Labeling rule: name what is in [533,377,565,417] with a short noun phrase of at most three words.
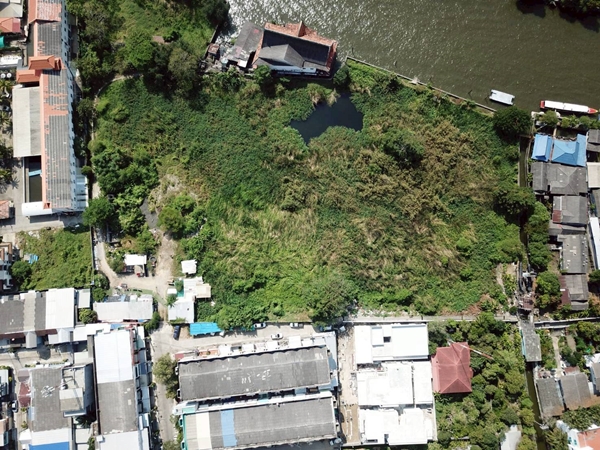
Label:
house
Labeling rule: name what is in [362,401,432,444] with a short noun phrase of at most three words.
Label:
building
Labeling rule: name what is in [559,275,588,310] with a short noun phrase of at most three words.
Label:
house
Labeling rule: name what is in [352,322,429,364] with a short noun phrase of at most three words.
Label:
building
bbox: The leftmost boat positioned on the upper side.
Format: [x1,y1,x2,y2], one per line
[488,89,515,105]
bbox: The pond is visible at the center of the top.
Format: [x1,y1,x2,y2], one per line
[289,91,364,139]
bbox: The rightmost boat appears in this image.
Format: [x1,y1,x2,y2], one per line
[538,100,598,115]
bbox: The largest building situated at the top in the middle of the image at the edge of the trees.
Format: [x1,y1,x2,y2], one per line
[251,22,338,77]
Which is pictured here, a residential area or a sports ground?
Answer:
residential area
